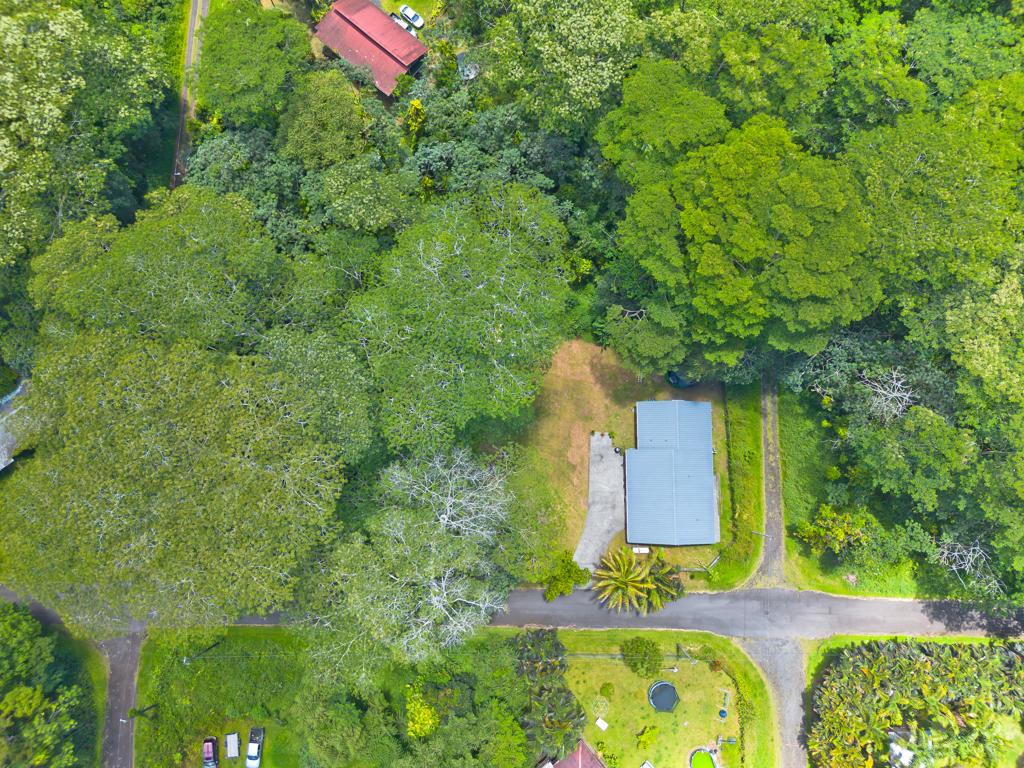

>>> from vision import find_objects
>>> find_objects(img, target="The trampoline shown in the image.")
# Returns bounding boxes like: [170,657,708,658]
[650,681,684,721]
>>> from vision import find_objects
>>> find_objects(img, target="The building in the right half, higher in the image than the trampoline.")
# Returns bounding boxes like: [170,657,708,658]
[625,401,716,545]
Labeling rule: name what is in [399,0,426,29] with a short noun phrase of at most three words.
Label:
car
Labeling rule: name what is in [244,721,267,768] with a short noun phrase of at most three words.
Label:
truck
